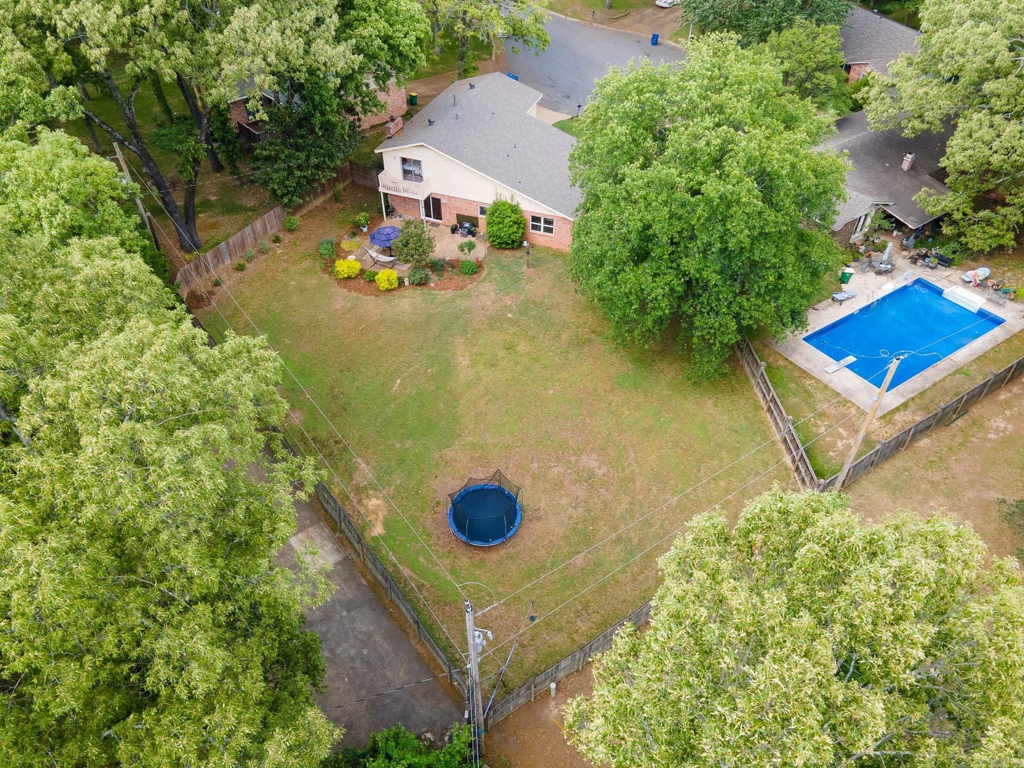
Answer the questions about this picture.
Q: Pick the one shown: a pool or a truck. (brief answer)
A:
pool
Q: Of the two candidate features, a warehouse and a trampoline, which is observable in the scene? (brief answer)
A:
trampoline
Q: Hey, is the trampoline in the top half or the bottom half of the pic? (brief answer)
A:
bottom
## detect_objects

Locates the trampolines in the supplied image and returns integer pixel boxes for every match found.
[444,466,525,554]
